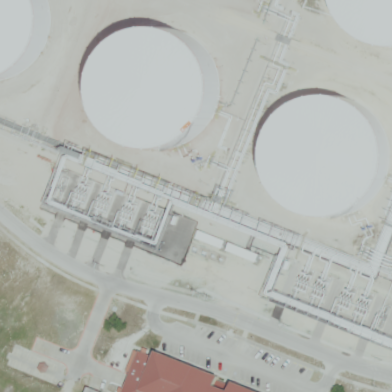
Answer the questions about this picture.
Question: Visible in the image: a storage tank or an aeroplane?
storage tank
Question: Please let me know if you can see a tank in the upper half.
Yes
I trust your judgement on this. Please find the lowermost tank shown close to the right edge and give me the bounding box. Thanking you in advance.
[254,92,390,218]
